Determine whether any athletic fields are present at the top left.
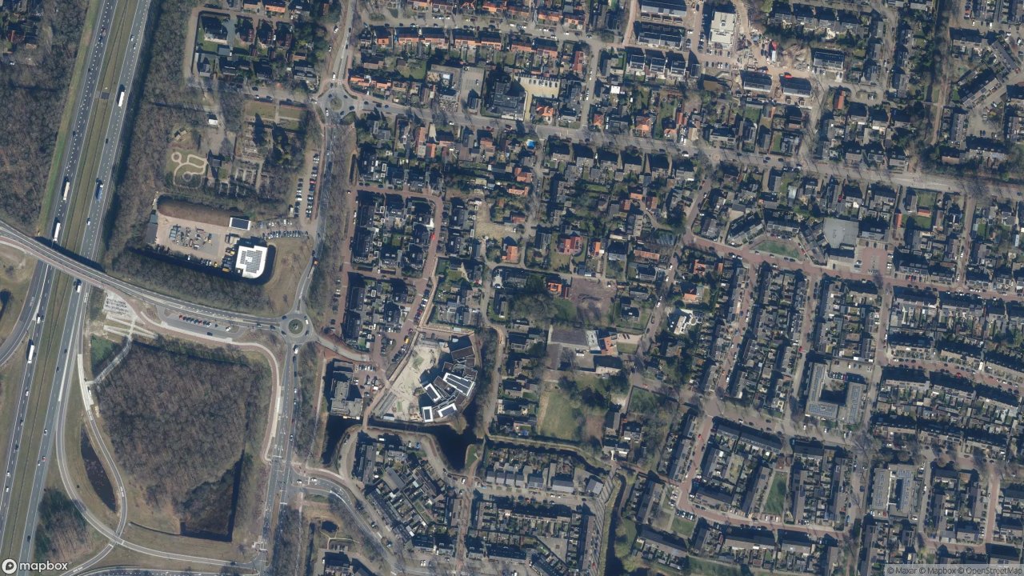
No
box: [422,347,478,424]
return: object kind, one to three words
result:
building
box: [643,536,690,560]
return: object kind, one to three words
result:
house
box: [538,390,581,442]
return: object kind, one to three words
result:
sports field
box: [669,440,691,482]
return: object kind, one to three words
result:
house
